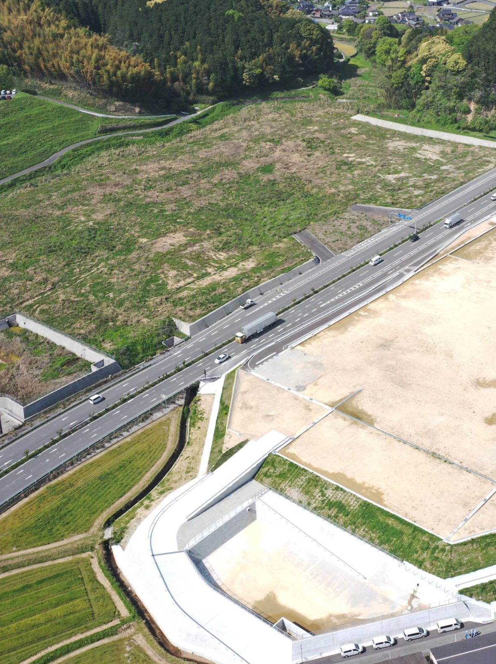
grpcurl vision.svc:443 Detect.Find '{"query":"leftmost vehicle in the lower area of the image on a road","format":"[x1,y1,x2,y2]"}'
[87,394,104,406]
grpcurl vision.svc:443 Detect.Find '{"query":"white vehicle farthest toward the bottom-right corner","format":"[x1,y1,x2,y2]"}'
[438,619,460,634]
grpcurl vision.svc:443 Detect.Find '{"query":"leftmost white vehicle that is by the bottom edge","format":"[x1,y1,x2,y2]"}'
[339,643,363,659]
